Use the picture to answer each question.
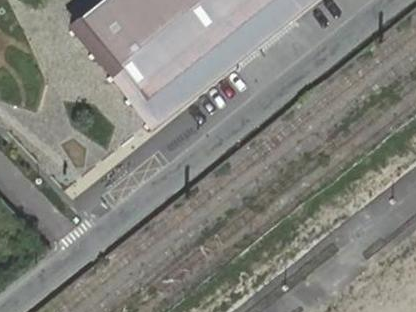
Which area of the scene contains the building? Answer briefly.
top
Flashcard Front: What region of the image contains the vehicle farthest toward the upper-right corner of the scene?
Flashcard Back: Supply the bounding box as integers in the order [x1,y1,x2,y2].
[322,0,342,20]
